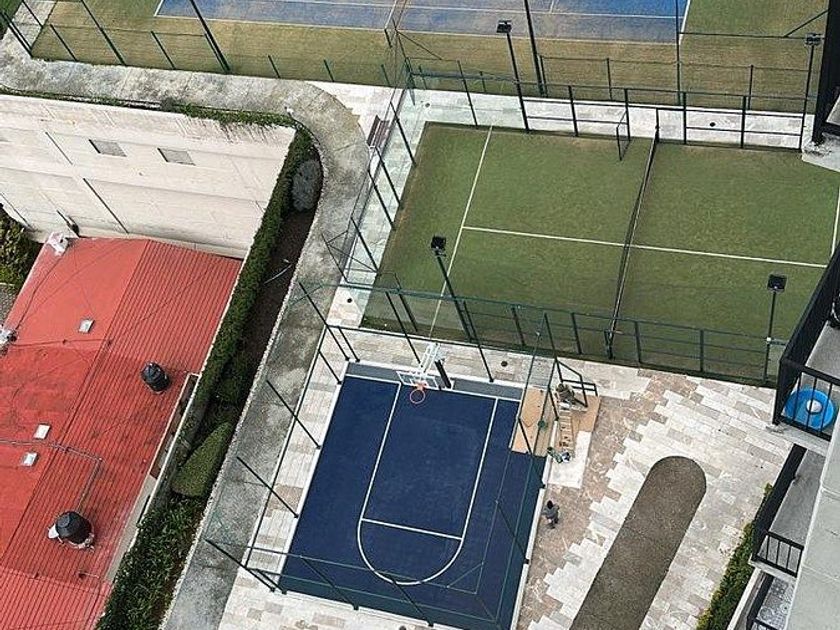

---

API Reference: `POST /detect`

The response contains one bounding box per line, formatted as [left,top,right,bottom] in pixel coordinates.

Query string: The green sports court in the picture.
[360,121,840,390]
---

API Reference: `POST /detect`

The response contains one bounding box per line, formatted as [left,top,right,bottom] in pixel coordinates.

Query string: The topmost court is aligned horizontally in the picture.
[33,0,833,115]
